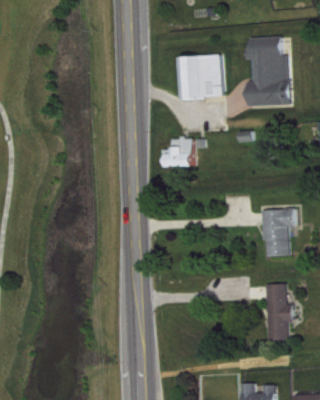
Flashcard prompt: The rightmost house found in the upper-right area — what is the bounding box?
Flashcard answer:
[244,36,293,106]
